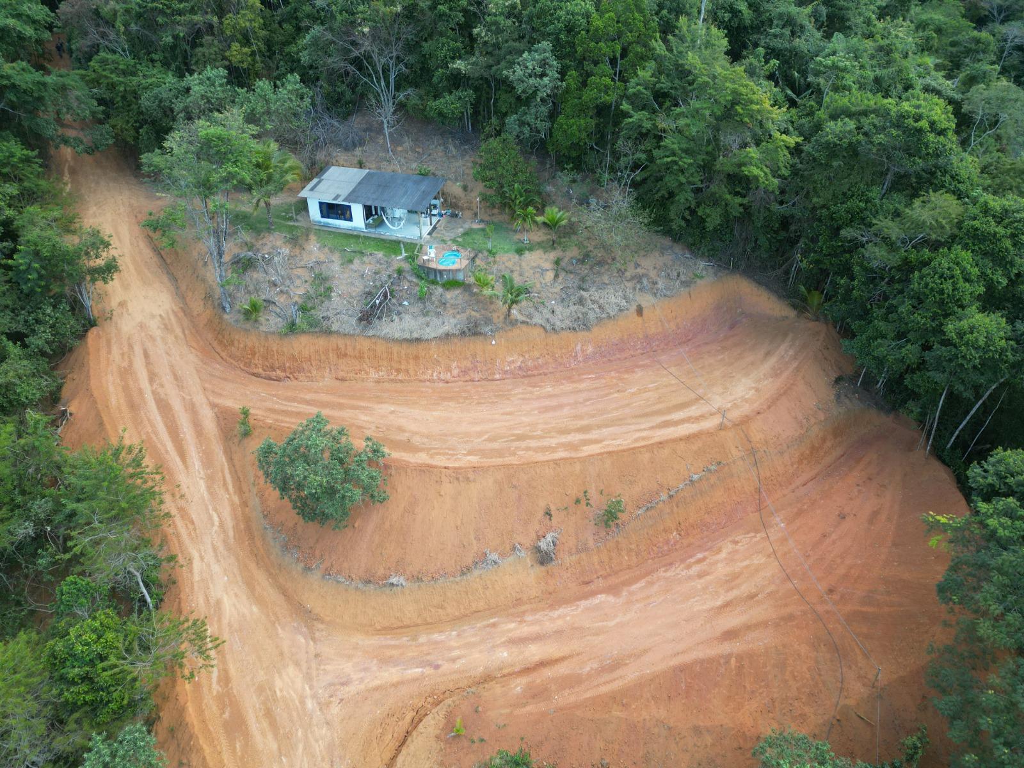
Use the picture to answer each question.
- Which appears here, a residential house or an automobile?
residential house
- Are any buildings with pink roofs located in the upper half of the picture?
No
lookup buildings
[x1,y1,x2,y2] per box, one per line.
[301,165,446,239]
